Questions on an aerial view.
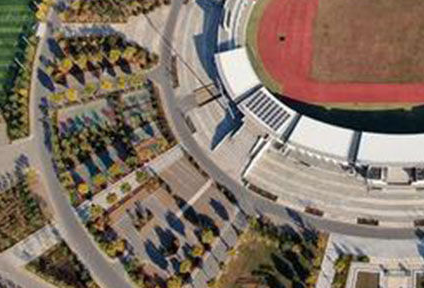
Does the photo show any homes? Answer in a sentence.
No, there isn't any home down there.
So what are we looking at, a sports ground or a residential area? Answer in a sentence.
It's a sports ground.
